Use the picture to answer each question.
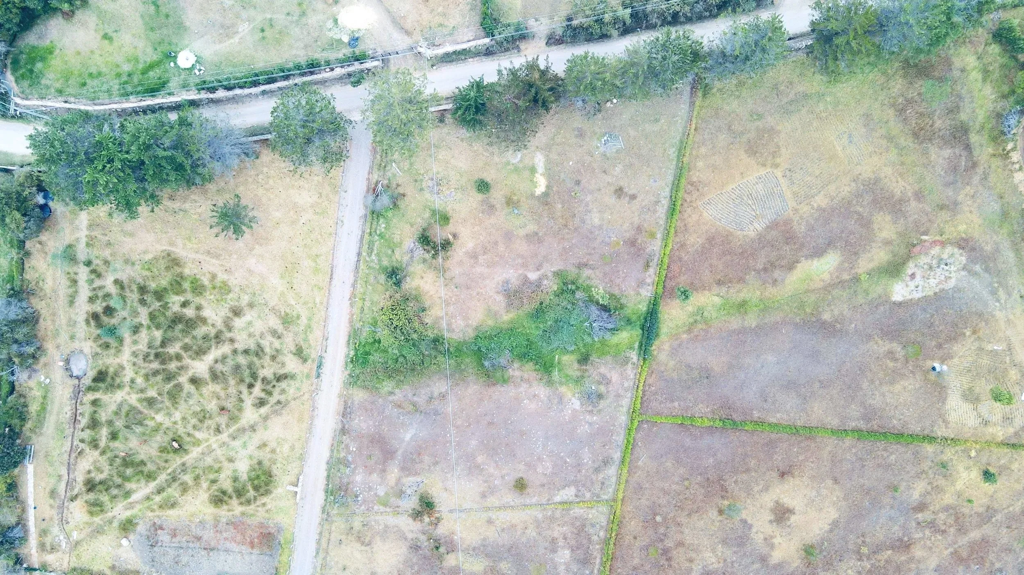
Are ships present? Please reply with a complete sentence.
No, the scene contains no ship.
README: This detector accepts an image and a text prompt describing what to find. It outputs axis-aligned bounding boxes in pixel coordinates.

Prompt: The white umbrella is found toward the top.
[178,50,197,70]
